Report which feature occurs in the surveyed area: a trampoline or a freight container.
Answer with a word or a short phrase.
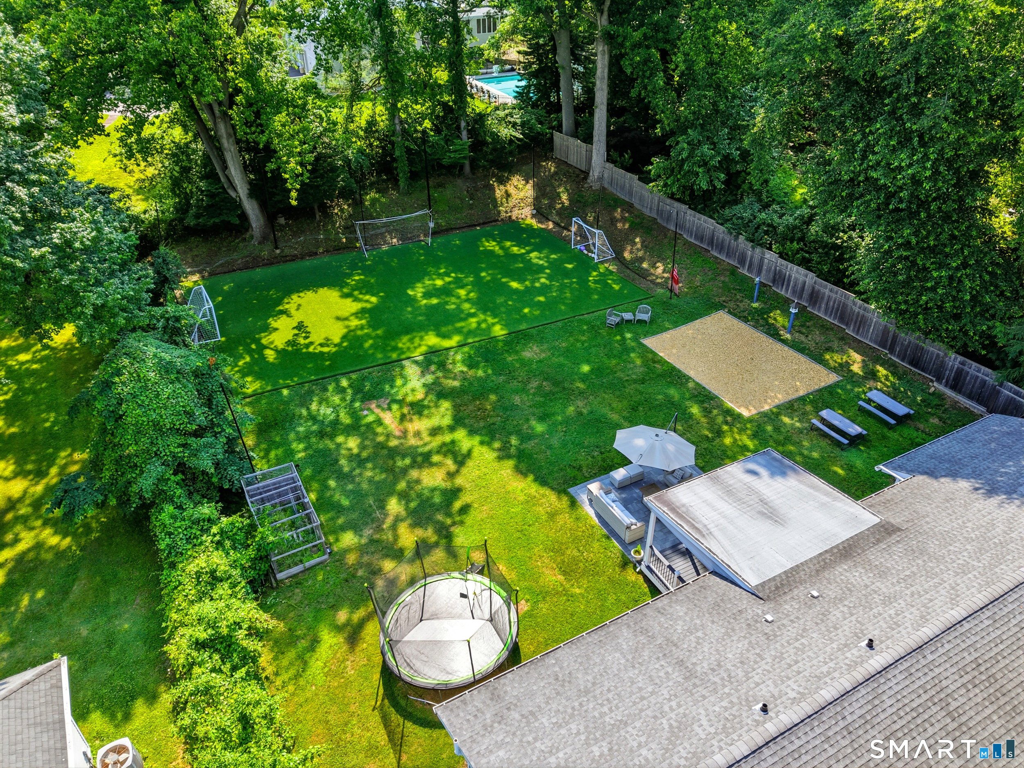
trampoline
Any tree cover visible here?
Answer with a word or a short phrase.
Yes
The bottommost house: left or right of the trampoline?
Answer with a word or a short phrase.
to its left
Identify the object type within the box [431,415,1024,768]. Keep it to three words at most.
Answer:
house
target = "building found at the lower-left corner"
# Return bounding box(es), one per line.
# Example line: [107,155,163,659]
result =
[0,646,101,768]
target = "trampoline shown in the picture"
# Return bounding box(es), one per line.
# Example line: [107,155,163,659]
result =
[367,539,522,701]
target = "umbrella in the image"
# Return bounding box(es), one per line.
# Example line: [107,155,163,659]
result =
[612,411,697,474]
